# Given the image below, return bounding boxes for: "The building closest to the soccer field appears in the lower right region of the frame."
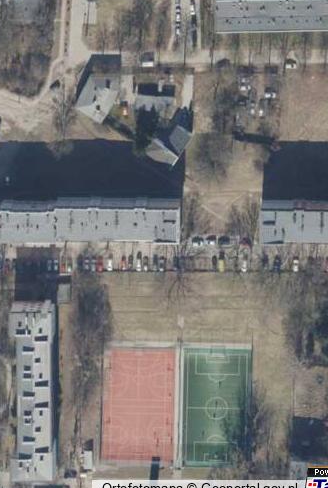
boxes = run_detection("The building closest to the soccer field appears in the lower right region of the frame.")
[285,455,327,488]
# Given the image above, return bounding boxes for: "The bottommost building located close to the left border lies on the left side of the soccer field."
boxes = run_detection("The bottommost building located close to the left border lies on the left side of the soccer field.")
[8,298,59,481]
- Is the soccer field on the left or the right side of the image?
right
